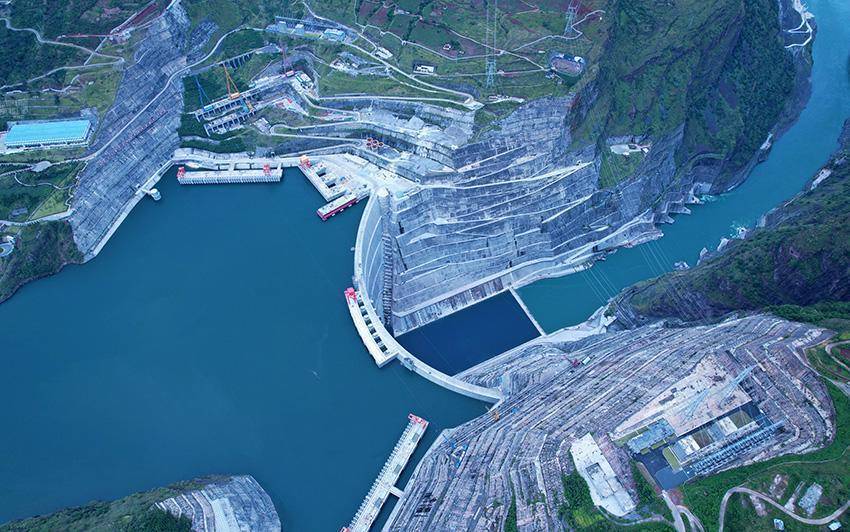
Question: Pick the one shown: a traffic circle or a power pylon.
power pylon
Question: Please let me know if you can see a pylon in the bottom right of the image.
Yes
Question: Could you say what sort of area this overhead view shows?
port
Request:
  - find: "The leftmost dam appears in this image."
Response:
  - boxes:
[351,188,502,408]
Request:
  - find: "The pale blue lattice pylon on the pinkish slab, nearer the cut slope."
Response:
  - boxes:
[716,362,762,409]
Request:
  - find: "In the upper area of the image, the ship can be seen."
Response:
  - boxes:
[317,190,364,223]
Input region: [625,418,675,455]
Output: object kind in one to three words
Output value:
building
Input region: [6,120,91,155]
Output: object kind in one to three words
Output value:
building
